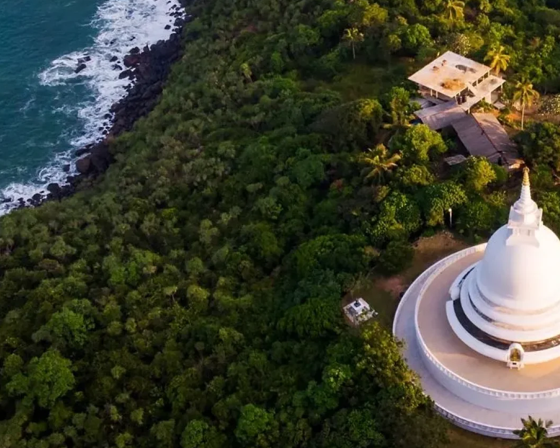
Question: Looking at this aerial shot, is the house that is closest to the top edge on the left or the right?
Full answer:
The house that is closest to the top edge is on the right side of the image.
